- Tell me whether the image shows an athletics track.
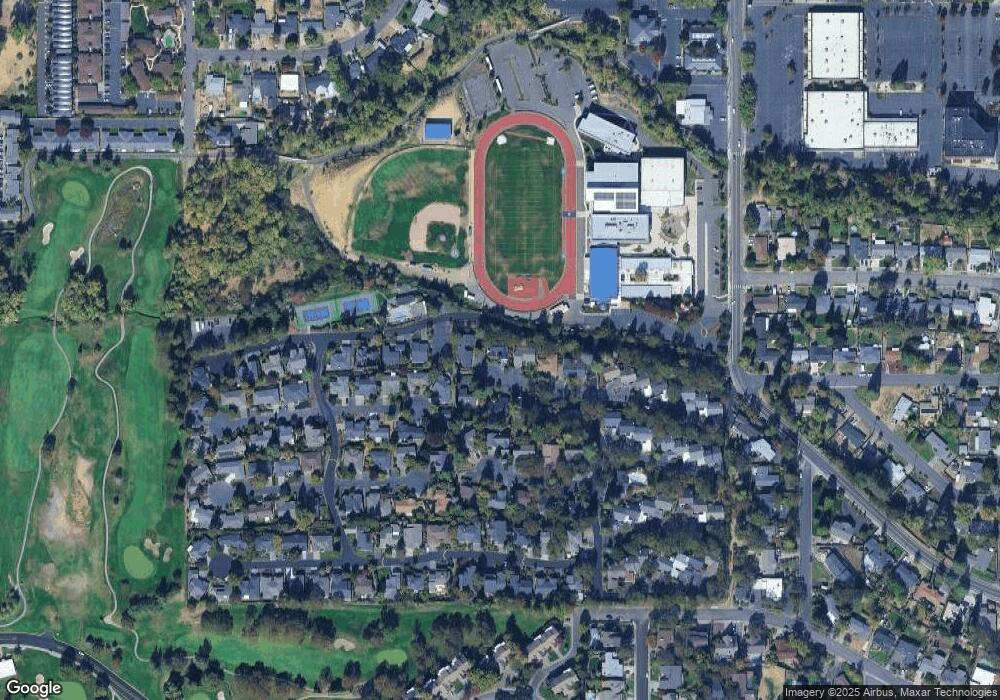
Yes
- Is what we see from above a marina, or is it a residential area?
residential area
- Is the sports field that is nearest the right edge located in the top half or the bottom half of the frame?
top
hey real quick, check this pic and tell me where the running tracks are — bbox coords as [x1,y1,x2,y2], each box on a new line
[475,111,588,311]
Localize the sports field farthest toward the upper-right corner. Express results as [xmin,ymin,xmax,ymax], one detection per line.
[485,122,564,298]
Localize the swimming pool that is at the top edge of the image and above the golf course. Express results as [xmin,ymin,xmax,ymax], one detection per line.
[162,28,177,48]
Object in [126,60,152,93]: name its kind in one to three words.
building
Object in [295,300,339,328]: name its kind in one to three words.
tennis court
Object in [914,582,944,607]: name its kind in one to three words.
house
